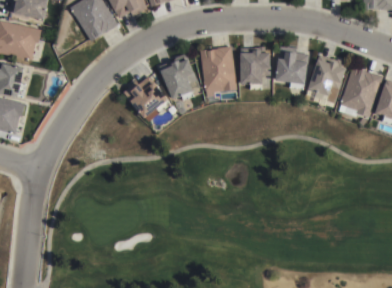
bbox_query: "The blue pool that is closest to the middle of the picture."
[152,112,173,128]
